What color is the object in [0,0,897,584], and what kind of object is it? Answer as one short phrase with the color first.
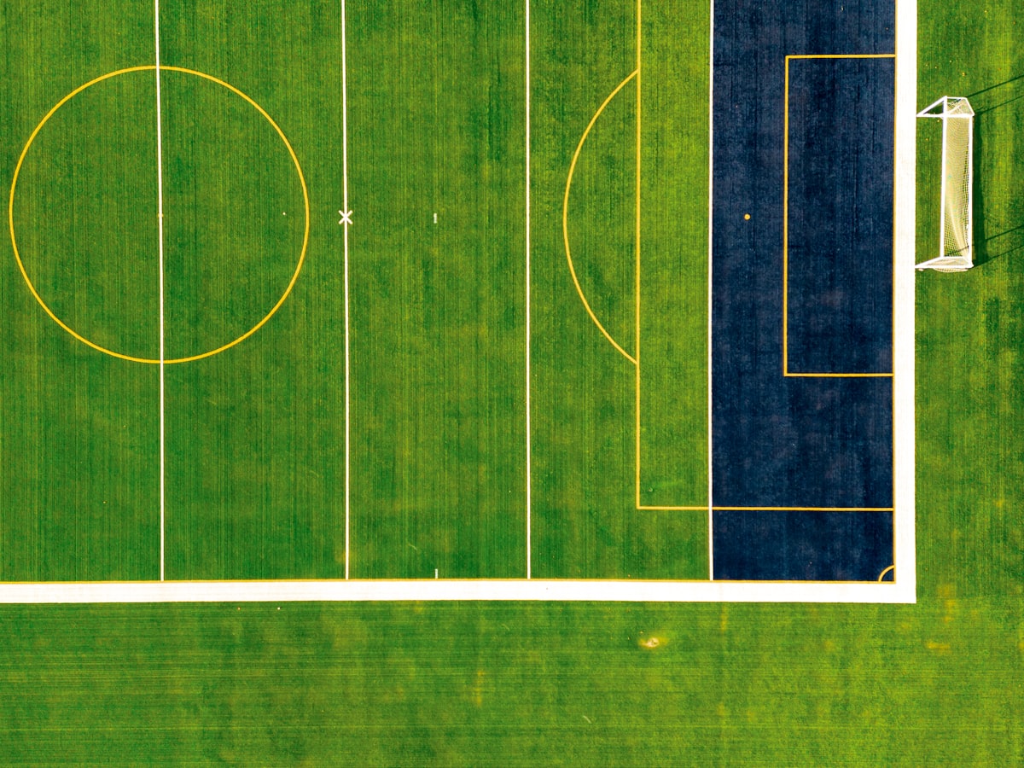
green sports field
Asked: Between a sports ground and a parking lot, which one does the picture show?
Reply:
sports ground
